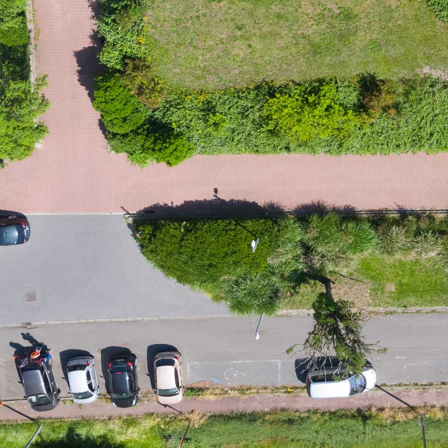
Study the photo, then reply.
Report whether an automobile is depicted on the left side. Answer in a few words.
Yes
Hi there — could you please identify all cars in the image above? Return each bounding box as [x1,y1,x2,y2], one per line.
[0,214,28,249]
[13,351,56,415]
[304,357,375,398]
[149,350,183,409]
[102,354,138,415]
[61,352,98,411]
